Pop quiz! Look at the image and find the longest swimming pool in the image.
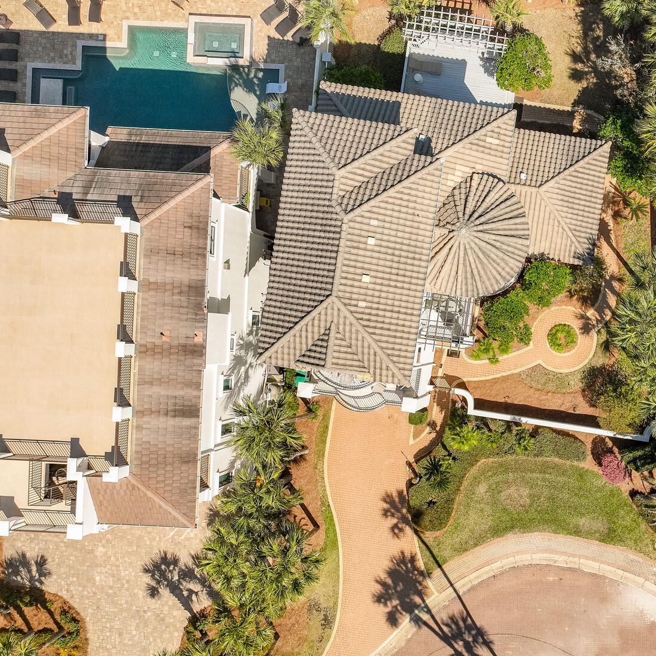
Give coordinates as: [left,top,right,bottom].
[26,20,283,147]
